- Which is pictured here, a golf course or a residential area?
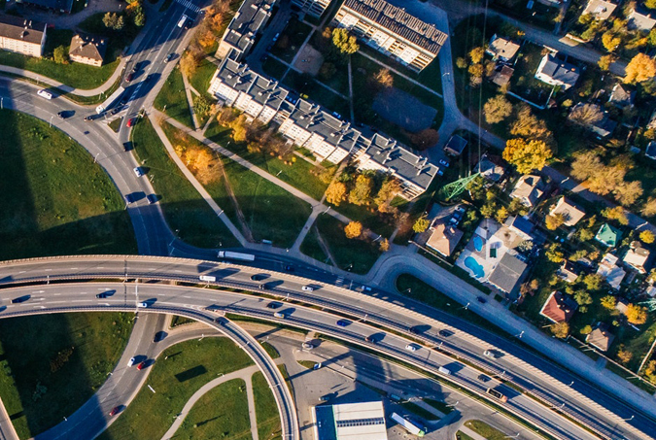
residential area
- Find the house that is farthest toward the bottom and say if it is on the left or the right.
right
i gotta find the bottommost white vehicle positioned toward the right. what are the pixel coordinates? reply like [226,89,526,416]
[391,412,424,437]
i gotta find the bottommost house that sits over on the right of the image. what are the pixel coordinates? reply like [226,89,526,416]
[579,323,616,357]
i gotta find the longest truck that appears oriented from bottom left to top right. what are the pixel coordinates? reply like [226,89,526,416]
[97,85,124,112]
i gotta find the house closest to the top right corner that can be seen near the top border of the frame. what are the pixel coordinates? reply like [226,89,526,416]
[623,9,656,36]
